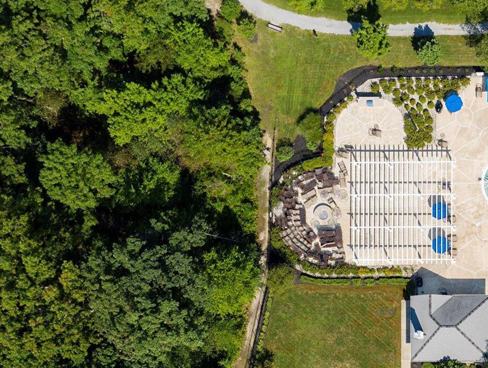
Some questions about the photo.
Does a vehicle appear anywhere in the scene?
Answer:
No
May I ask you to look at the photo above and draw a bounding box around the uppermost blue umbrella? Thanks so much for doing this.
[445,95,462,111]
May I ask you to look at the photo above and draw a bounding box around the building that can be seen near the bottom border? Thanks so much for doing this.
[409,292,488,363]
